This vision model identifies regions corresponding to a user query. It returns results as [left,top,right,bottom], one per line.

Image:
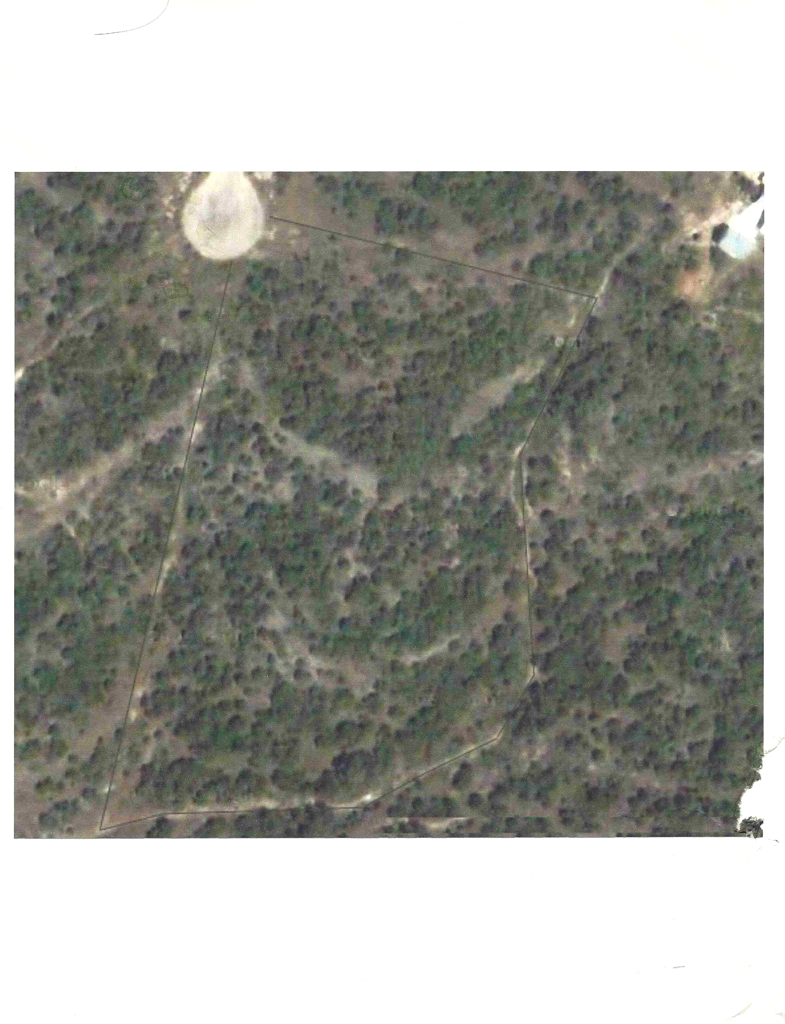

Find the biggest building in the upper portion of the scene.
[721,196,765,259]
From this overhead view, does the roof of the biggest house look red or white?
white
